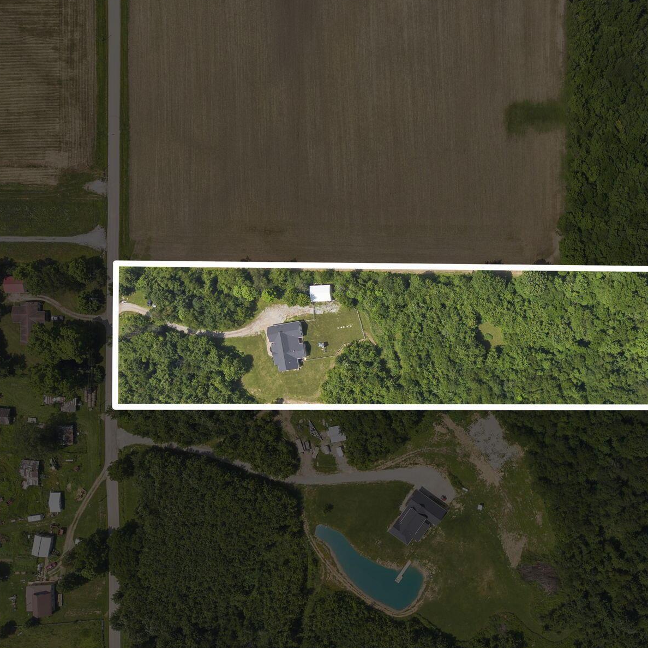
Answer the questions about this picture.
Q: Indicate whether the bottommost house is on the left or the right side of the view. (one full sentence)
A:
The bottommost house appears in the left half of the scene.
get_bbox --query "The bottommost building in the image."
[25,585,57,616]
